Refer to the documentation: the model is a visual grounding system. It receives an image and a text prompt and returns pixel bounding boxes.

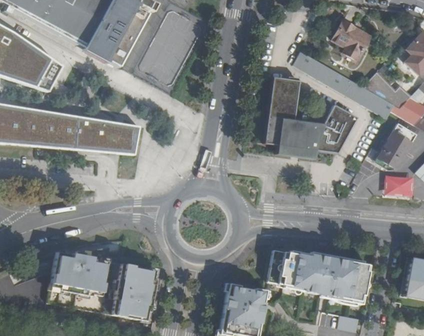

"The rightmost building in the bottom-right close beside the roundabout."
[266,248,368,309]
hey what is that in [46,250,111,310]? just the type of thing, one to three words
building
